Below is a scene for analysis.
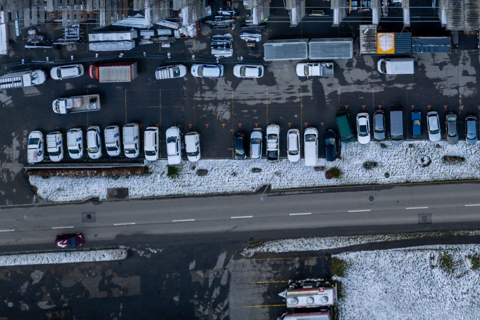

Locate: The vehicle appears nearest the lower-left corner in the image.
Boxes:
[54,232,85,249]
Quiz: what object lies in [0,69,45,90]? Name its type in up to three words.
vehicle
